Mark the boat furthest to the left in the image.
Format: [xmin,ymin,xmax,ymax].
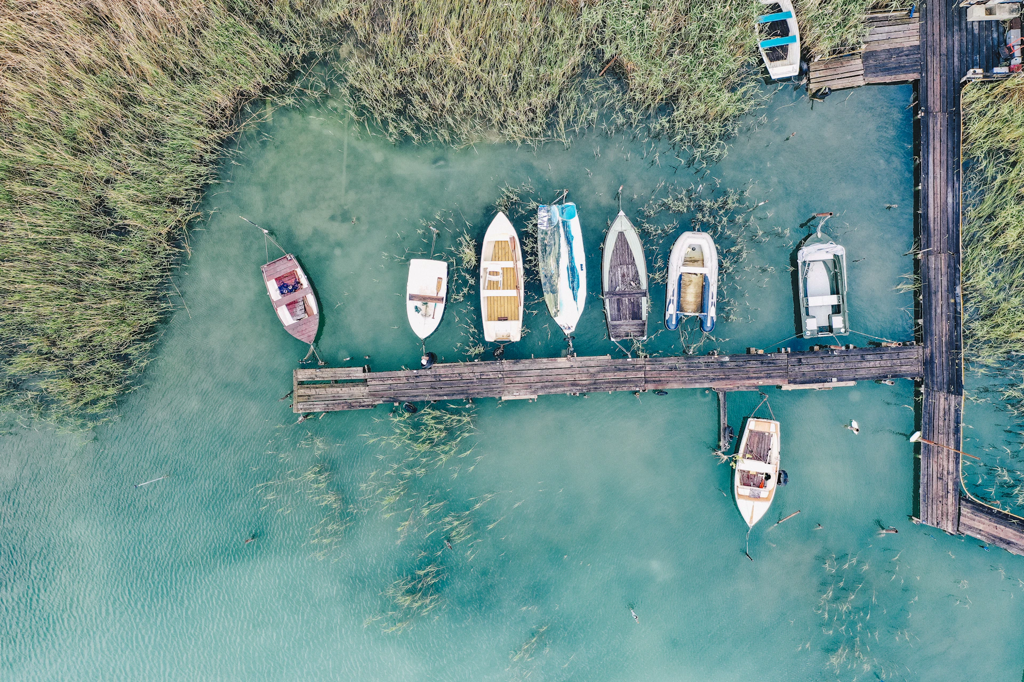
[261,254,320,344]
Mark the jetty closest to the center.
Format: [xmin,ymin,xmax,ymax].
[293,346,923,413]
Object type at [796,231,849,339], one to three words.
boat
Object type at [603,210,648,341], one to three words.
boat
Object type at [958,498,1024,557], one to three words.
pier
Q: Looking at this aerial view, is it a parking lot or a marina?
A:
marina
